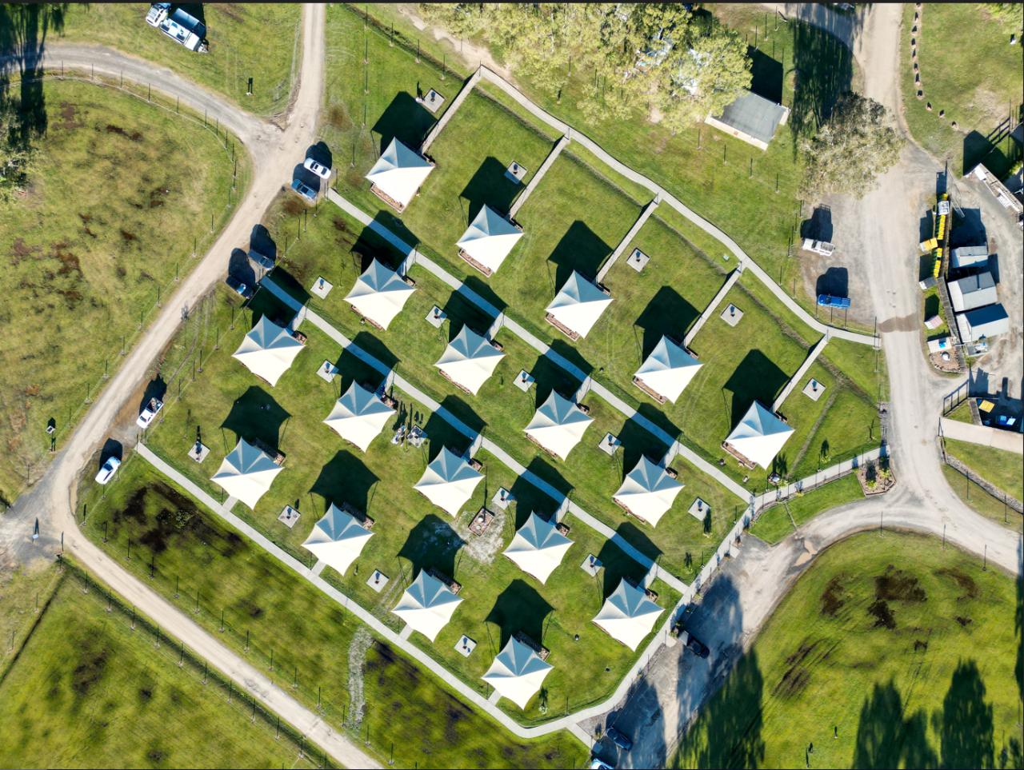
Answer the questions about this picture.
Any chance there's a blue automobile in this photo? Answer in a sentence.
Yes, looking at the shot, I can spot a blue automobile.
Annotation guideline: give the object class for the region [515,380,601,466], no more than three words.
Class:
tent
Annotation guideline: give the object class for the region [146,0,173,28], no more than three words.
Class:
car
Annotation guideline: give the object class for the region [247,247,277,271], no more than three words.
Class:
truck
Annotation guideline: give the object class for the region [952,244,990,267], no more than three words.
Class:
shed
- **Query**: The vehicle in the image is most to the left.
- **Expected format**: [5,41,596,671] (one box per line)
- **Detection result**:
[96,457,121,484]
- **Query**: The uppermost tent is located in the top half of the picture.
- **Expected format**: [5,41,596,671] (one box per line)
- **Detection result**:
[361,136,443,220]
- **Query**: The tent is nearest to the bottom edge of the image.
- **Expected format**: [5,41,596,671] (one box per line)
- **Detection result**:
[476,619,559,703]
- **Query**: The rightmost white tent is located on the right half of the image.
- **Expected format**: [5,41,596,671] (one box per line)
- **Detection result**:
[708,389,789,466]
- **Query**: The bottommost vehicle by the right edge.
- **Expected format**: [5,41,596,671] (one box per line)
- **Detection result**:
[986,409,1011,424]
